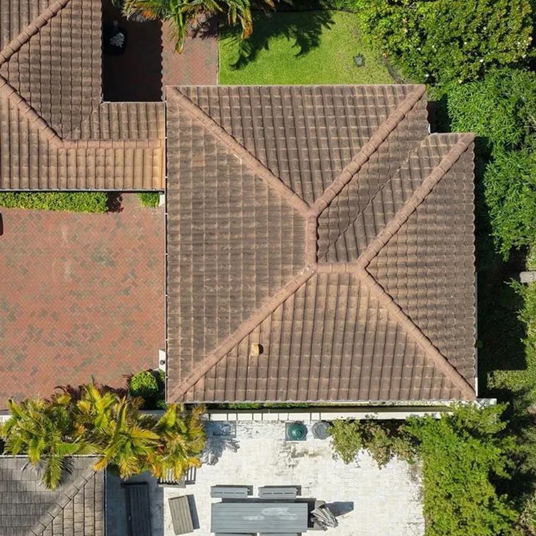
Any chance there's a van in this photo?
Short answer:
No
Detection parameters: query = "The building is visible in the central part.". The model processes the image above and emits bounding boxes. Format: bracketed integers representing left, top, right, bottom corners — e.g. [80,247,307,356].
[161,81,480,405]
